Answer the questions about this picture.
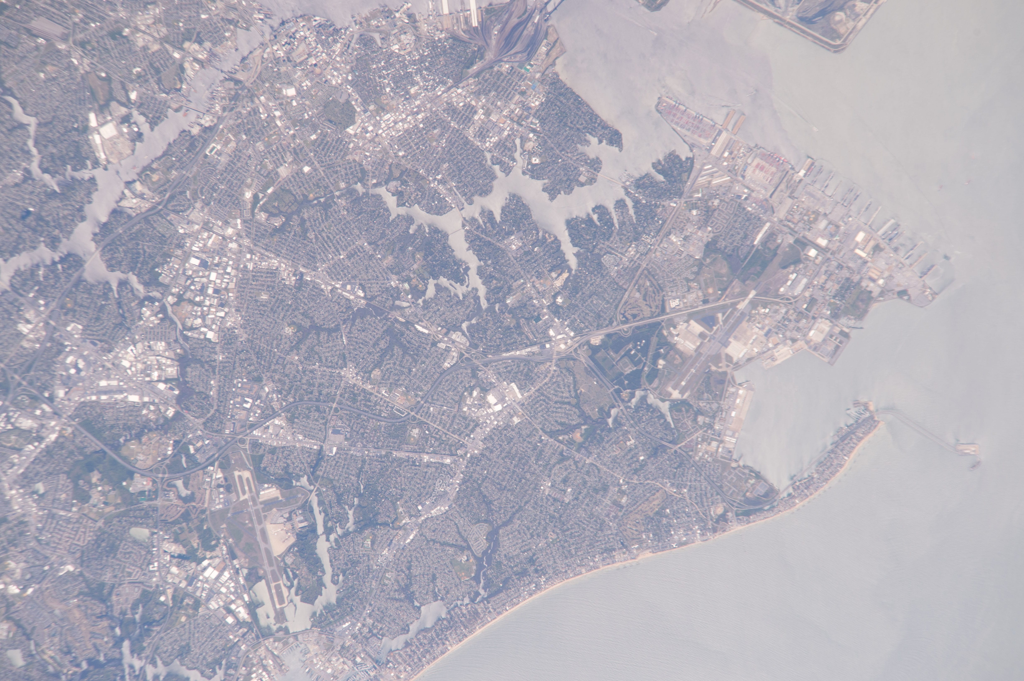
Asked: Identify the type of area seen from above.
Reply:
port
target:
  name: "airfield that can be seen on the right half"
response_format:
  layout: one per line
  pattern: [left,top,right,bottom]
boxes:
[653,271,770,411]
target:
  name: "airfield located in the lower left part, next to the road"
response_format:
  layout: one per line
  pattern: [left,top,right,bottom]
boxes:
[210,451,309,625]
